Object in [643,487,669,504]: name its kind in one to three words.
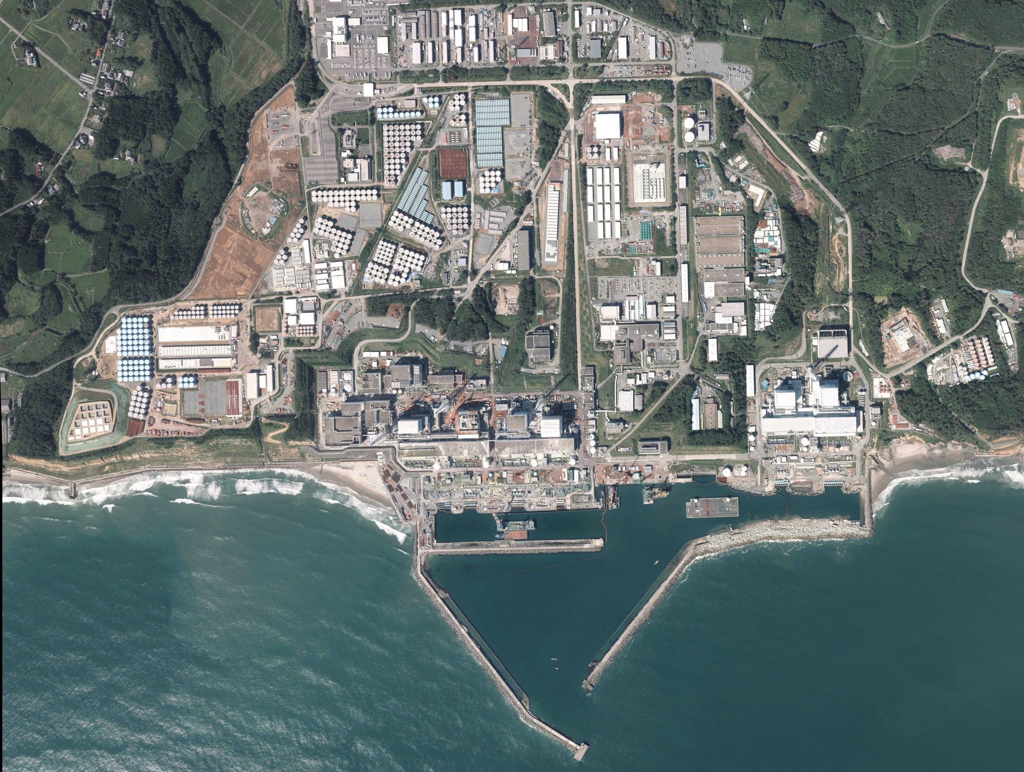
ship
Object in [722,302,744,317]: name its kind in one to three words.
building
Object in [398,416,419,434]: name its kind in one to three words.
building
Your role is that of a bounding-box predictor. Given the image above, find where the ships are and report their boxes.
[609,485,618,509]
[503,520,535,531]
[599,486,605,510]
[643,487,669,504]
[504,530,528,539]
